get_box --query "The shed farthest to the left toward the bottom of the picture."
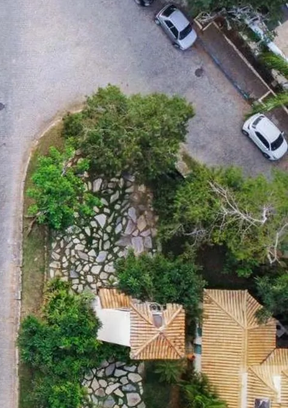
[81,289,188,360]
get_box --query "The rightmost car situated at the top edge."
[152,1,197,52]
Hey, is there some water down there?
No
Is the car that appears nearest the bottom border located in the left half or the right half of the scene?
right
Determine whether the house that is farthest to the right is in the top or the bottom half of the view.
top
